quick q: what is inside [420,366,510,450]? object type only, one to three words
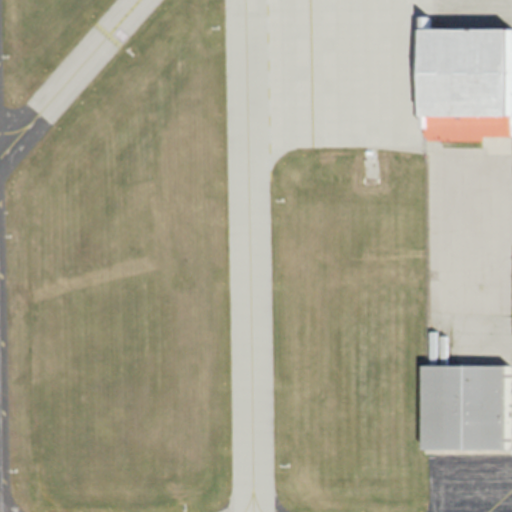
hangar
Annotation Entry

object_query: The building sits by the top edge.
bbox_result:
[415,16,512,117]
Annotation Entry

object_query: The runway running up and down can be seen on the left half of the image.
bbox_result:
[0,0,55,512]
